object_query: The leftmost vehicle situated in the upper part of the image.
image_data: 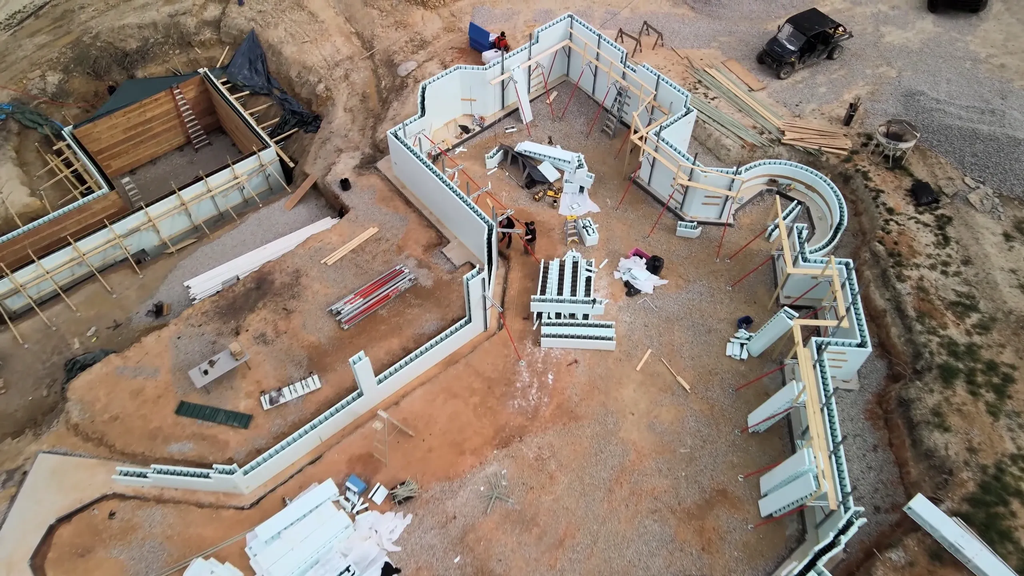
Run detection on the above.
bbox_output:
[759,2,851,77]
